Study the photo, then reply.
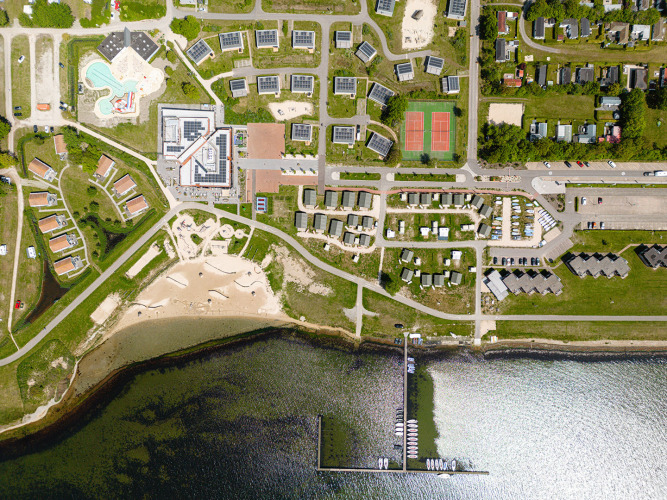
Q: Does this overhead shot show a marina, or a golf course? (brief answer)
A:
marina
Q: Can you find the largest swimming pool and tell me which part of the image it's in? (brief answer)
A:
top left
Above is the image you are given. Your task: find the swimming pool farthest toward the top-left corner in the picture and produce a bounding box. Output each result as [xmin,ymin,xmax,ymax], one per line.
[81,49,165,118]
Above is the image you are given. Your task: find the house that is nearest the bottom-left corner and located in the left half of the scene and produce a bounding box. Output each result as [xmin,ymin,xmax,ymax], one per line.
[54,255,87,275]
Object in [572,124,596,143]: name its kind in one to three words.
house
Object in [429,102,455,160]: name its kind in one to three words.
tennis court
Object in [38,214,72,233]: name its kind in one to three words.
house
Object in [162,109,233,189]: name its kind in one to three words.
building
